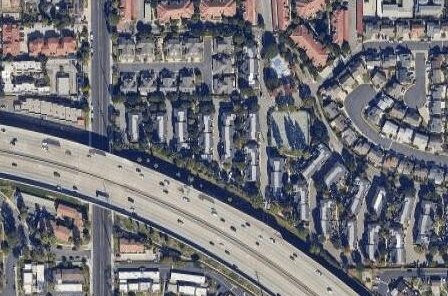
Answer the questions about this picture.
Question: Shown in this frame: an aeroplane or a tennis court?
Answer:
tennis court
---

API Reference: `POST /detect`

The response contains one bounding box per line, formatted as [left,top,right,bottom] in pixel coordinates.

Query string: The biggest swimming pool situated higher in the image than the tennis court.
[269,54,288,72]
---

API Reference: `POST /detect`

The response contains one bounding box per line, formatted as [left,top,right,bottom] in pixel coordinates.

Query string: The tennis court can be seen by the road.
[271,109,309,146]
